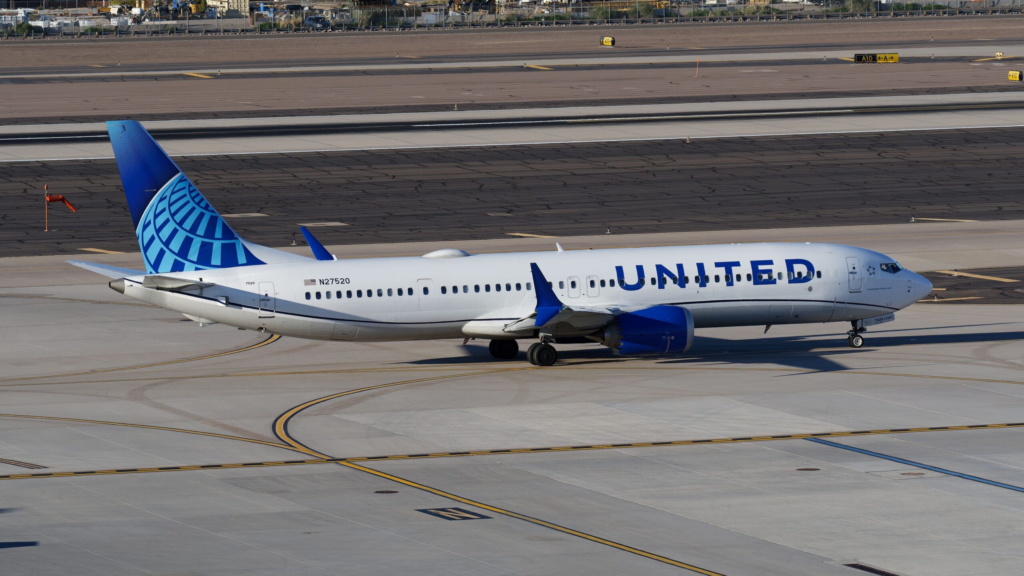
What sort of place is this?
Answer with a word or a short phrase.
airport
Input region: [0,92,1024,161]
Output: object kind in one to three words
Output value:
runway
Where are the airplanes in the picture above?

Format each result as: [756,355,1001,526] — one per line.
[67,120,933,367]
